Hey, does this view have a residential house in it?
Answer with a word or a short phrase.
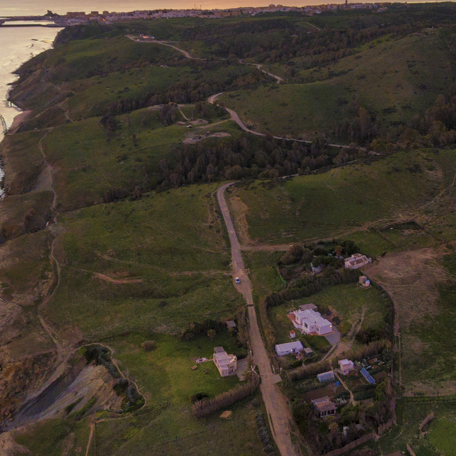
Yes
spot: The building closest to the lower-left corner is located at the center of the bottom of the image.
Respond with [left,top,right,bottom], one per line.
[212,348,237,377]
